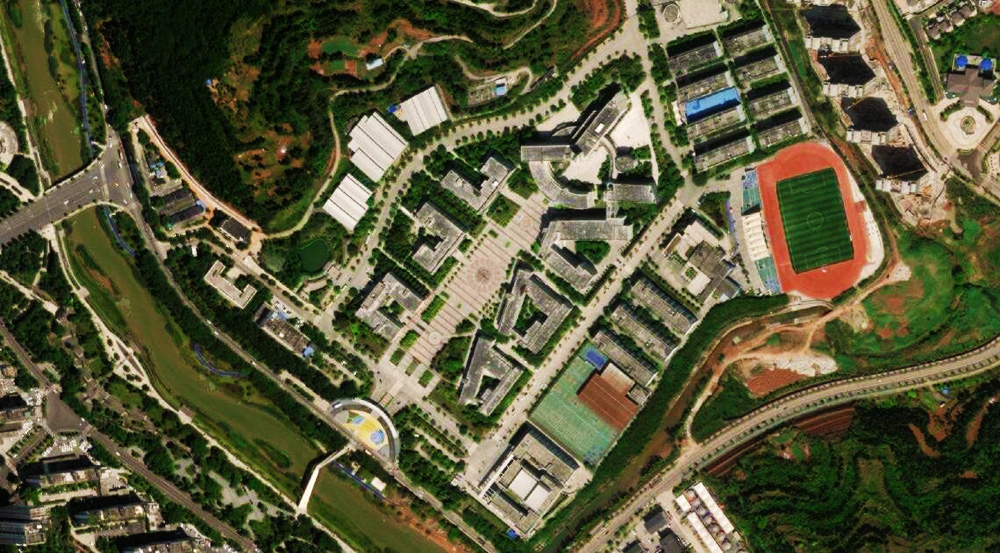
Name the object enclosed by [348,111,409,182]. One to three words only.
greenhouse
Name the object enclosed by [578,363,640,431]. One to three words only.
basketball court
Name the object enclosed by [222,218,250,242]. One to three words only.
house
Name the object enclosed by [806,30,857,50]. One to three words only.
building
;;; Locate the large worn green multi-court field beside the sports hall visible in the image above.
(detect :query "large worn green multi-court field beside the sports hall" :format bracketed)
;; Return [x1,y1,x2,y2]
[530,342,637,470]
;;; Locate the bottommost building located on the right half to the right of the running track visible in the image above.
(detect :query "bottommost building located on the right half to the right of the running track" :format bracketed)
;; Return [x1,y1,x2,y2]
[876,172,927,192]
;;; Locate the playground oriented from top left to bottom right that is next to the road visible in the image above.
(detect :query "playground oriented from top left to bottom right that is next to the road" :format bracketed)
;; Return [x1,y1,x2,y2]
[345,411,387,450]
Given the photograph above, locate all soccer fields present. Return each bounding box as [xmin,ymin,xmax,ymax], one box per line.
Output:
[776,166,854,274]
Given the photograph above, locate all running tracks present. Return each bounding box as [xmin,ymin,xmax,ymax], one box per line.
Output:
[757,142,867,299]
